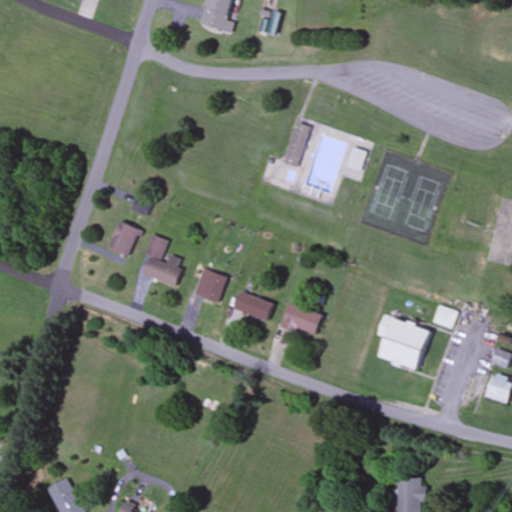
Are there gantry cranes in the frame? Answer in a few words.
No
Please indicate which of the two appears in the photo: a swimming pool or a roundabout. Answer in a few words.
swimming pool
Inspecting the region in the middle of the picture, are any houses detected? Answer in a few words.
Yes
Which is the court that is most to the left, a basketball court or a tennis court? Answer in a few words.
tennis court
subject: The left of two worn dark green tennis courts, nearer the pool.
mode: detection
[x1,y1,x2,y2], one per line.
[362,150,419,233]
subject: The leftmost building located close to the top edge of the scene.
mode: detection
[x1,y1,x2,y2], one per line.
[201,0,238,32]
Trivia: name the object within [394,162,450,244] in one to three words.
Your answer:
tennis court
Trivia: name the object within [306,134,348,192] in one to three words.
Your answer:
swimming pool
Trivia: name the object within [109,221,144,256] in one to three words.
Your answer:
house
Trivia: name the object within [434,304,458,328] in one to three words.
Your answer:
building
